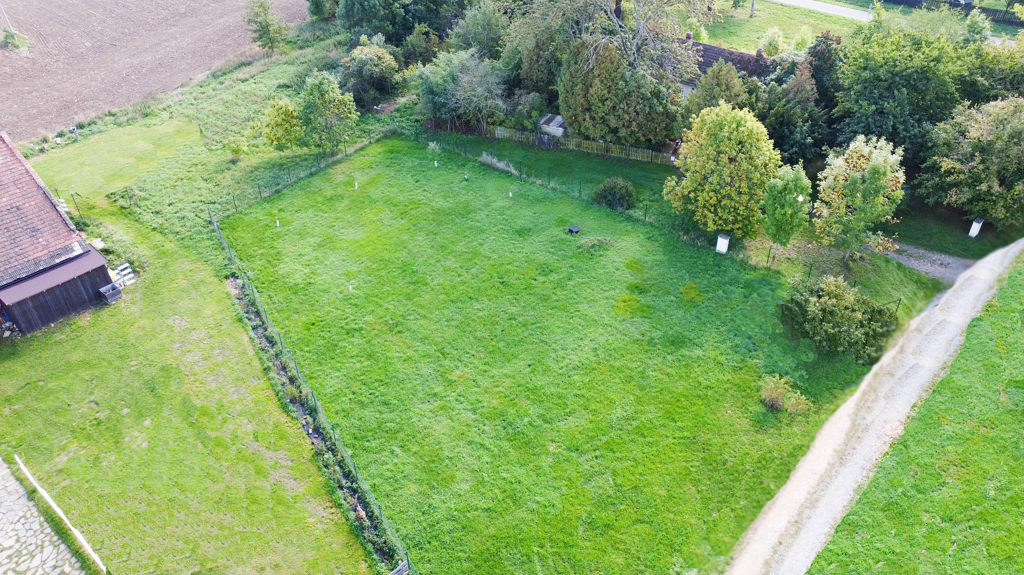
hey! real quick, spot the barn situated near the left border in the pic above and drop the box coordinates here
[0,129,116,335]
